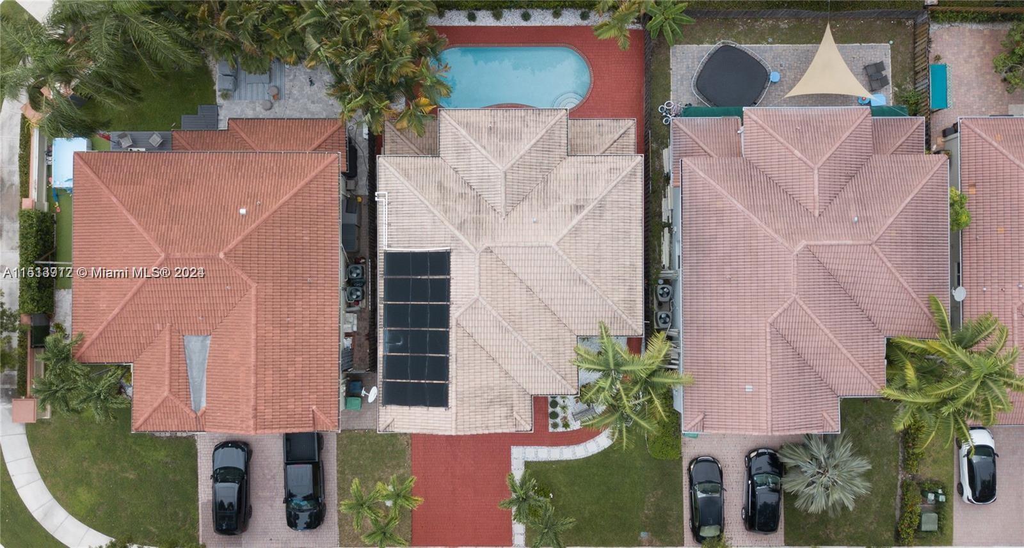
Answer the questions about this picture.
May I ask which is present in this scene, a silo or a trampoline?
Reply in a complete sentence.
The image shows a trampoline.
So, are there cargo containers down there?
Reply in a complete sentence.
No, the photo shows no cargo container.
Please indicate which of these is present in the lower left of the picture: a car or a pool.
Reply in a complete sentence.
The one visible in the lower left of the picture is a car.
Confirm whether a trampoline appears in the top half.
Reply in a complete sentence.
Yes, a trampoline can be seen in the top half.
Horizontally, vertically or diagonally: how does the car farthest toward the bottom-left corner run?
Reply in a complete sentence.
In this picture, the car farthest toward the bottom-left corner is oriented vertically.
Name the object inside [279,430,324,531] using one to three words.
truck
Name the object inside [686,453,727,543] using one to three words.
car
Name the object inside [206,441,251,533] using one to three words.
car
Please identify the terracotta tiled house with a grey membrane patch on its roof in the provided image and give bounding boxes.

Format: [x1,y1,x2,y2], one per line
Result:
[71,116,348,438]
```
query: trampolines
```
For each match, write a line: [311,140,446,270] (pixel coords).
[695,43,770,106]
